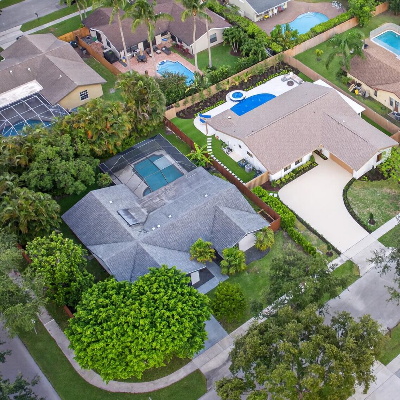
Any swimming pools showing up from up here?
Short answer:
Yes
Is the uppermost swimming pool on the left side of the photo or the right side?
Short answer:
right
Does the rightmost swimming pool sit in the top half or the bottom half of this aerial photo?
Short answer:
top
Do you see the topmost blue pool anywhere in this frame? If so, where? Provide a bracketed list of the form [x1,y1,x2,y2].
[289,10,329,33]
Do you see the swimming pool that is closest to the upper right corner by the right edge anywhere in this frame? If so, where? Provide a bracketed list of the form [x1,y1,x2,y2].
[367,29,400,58]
